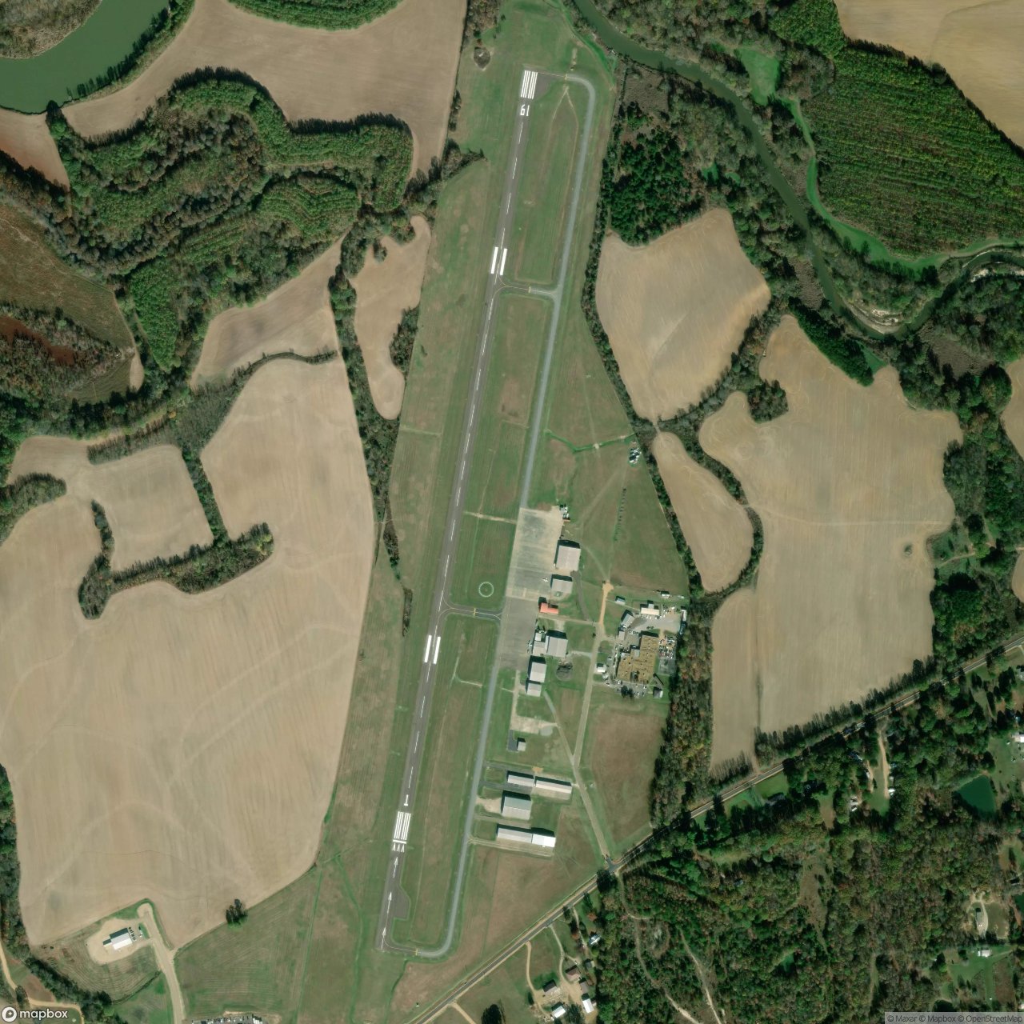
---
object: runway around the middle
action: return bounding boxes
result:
[375,70,537,950]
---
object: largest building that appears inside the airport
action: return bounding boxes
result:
[617,635,659,683]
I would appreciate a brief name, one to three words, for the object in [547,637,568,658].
hangar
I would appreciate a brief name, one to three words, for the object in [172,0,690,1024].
airport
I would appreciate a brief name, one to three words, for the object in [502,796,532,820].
hangar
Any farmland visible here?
Yes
